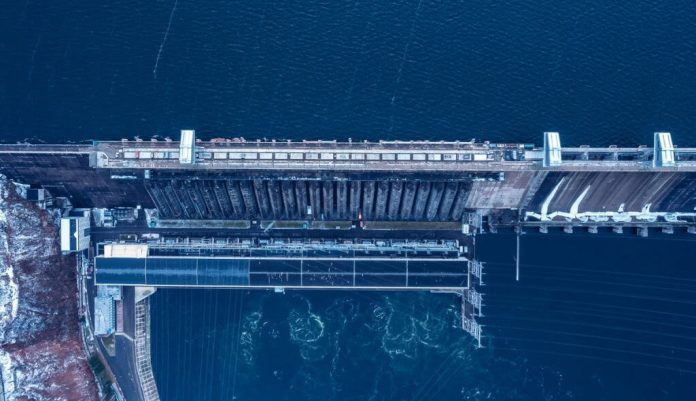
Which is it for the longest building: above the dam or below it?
below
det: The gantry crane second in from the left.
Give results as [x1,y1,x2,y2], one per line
[544,130,561,168]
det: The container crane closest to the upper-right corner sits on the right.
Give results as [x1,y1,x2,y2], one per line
[652,130,674,168]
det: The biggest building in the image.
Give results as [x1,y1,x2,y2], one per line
[94,249,468,289]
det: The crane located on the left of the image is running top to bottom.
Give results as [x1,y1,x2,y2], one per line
[180,130,197,168]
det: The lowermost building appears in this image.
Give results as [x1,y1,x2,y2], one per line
[94,296,119,334]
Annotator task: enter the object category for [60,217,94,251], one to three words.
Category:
building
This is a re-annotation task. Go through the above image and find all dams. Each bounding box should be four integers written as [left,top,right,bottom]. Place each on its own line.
[0,137,696,235]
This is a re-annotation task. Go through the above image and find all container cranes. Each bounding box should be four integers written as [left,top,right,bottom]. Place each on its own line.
[544,130,561,168]
[180,130,197,168]
[652,130,674,168]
